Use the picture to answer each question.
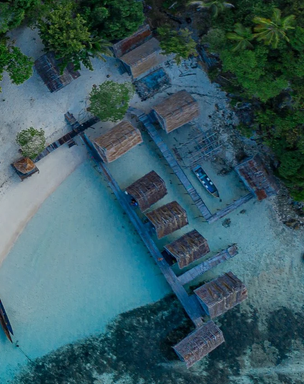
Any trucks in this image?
No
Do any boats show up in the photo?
Yes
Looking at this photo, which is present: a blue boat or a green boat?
blue boat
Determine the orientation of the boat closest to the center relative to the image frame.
diagonally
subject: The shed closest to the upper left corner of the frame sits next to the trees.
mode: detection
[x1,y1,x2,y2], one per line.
[34,55,78,97]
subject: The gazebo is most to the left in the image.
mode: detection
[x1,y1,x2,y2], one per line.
[2,150,35,182]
